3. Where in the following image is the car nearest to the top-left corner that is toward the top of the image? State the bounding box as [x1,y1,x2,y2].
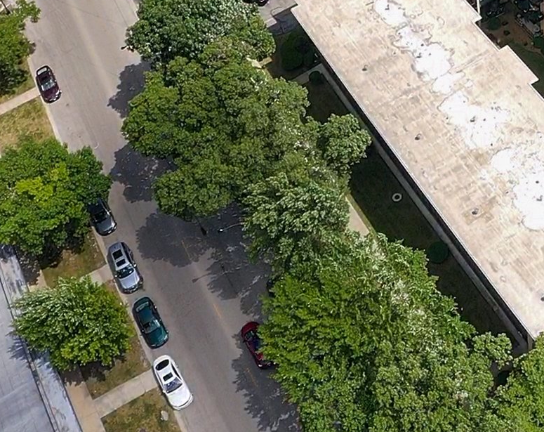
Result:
[32,64,64,106]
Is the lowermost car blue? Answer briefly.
No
